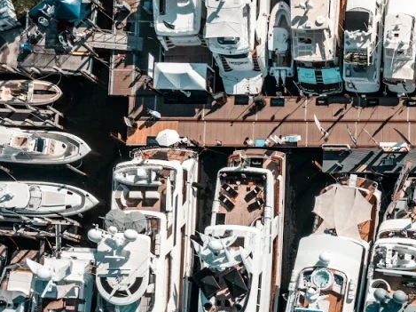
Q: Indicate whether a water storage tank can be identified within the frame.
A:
No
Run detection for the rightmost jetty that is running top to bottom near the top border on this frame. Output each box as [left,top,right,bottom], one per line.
[109,0,154,95]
